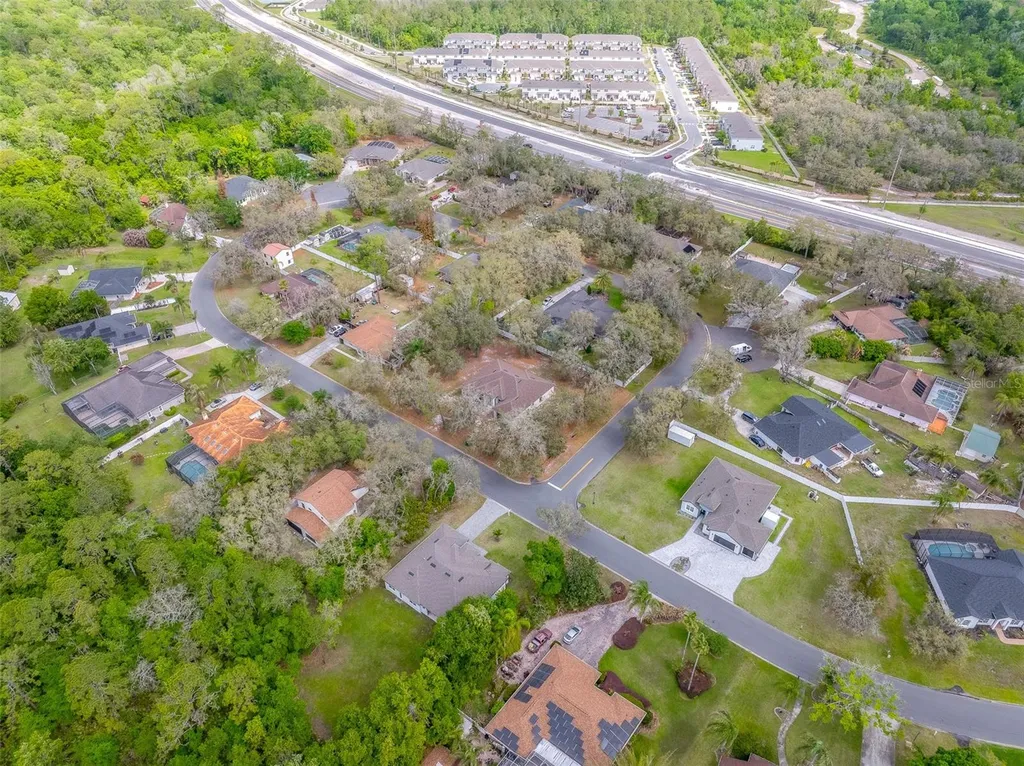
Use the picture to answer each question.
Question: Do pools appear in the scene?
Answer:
Yes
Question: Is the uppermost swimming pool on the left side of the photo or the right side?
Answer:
left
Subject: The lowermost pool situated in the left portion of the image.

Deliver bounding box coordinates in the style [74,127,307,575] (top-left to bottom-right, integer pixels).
[166,448,225,492]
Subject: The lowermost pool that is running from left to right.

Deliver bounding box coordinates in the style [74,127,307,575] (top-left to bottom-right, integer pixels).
[914,538,986,562]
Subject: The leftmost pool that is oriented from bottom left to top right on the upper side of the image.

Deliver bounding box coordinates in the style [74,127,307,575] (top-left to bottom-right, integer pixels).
[333,237,363,257]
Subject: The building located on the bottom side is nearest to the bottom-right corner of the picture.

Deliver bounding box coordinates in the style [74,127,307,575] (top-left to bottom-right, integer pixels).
[924,549,1024,631]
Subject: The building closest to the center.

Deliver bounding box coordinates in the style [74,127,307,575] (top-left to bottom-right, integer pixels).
[459,356,558,423]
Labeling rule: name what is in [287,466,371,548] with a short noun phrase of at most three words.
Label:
house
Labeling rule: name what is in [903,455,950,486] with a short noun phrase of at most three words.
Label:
shed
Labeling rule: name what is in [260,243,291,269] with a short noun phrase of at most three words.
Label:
house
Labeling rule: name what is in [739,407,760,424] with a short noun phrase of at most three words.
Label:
vehicle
